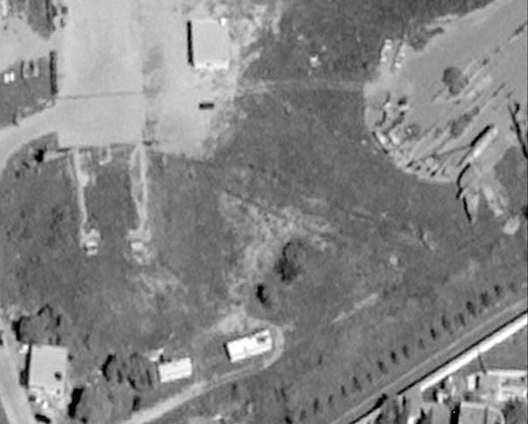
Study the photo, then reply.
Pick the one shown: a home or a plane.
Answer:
home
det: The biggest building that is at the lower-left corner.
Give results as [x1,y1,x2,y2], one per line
[27,345,68,411]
